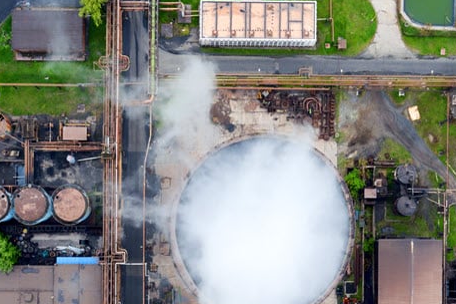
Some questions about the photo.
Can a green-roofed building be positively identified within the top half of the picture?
No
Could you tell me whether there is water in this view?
Yes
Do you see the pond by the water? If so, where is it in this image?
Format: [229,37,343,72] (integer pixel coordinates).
[398,0,456,34]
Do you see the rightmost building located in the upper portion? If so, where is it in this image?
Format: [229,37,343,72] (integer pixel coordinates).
[200,0,317,49]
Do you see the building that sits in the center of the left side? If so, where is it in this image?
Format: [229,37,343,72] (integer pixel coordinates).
[60,122,94,142]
